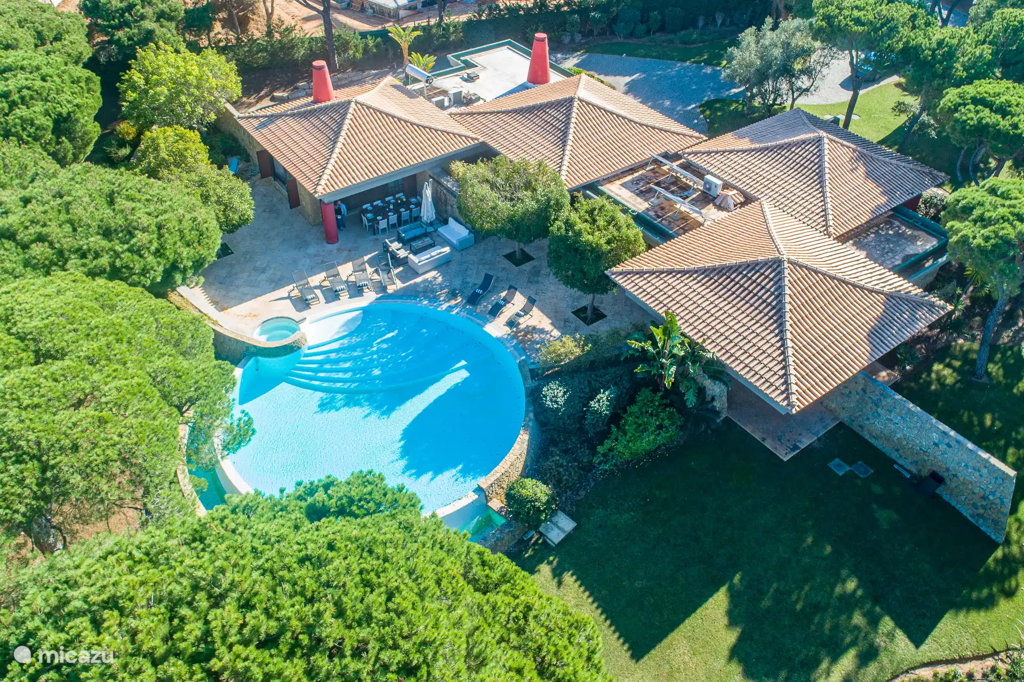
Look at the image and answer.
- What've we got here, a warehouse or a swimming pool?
swimming pool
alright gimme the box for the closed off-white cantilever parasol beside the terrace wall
[422,179,442,225]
